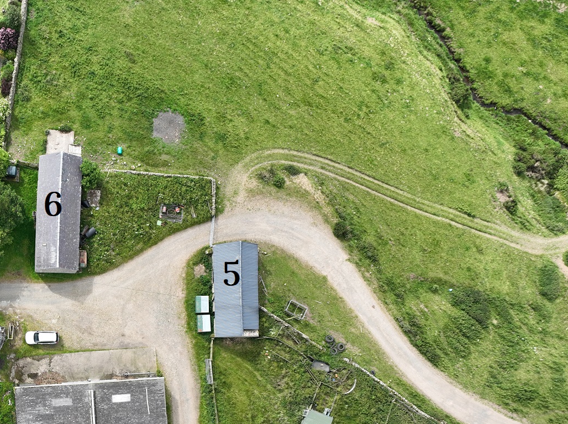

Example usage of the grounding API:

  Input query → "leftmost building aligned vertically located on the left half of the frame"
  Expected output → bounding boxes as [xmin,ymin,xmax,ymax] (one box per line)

[32,150,82,274]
